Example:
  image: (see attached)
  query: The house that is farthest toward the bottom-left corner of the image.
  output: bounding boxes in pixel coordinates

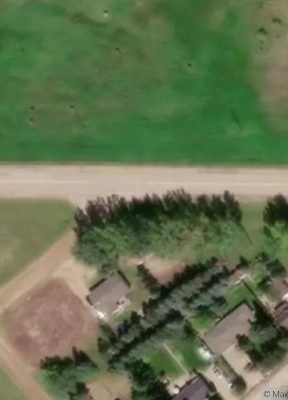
[87,273,130,315]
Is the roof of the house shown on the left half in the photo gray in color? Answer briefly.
Yes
